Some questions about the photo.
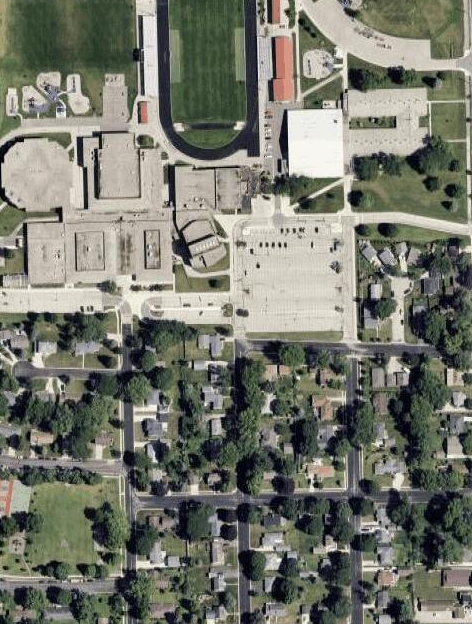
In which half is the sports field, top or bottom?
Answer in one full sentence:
The sports field sits in the top half of the picture.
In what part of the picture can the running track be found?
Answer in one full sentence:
The running track is in the top part of the image.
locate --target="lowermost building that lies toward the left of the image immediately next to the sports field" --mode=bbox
[1,133,240,285]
